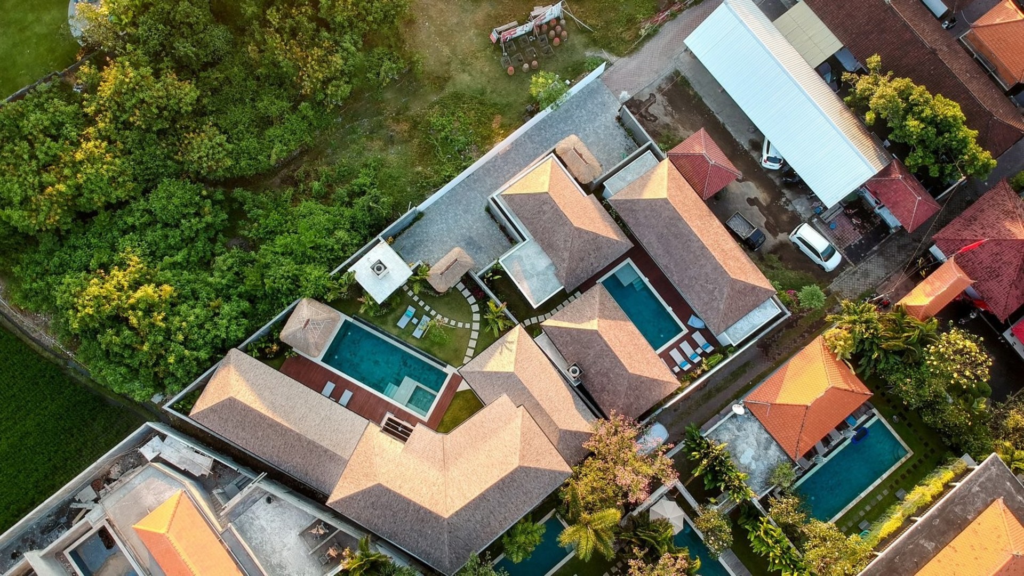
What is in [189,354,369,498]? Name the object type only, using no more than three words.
house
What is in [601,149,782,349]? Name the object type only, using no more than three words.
house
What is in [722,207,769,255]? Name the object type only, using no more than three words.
truck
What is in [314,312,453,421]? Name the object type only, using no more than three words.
swimming pool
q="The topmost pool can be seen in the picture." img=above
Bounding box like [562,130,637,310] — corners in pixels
[600,256,689,354]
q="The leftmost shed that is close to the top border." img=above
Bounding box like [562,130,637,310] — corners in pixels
[684,0,893,208]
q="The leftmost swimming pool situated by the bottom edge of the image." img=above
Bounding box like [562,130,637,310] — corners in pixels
[475,509,582,576]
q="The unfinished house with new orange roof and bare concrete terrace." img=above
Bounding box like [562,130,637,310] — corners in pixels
[99,461,259,576]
